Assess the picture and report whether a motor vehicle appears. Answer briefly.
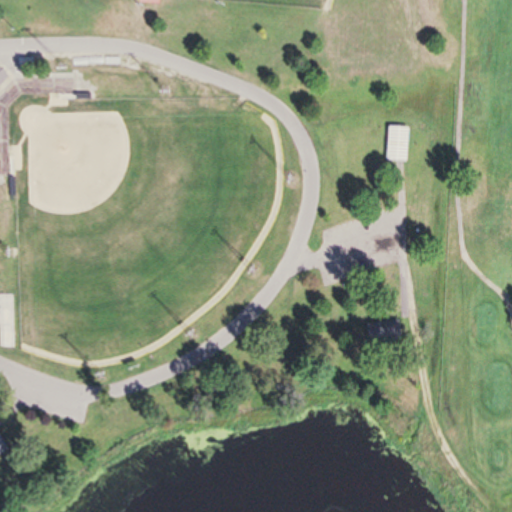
No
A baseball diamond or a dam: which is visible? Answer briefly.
baseball diamond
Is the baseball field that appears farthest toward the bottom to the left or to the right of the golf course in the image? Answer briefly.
to the left of it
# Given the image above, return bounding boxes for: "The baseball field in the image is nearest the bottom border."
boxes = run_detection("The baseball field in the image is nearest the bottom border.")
[10,94,284,369]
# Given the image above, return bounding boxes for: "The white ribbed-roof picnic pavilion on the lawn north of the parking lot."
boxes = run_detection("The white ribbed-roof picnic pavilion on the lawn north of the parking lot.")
[386,124,410,162]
